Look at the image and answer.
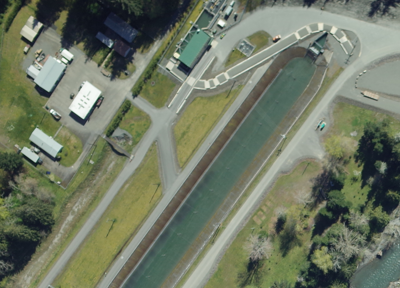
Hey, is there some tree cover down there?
Yes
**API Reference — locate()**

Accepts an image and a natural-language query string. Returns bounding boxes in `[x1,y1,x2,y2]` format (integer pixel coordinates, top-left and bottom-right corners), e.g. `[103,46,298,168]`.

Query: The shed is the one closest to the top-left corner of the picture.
[20,17,45,41]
